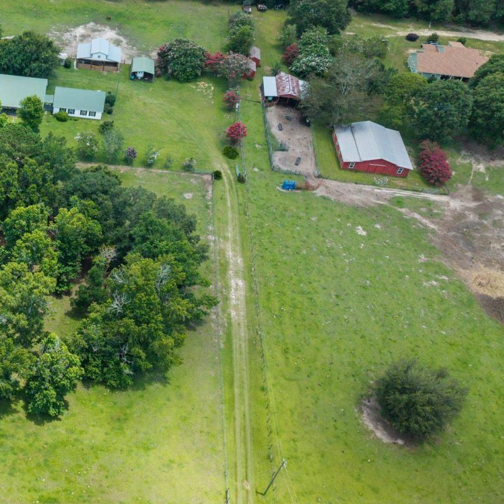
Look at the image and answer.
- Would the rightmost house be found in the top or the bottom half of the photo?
top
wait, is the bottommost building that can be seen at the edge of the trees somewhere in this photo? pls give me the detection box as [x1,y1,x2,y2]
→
[332,121,414,176]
